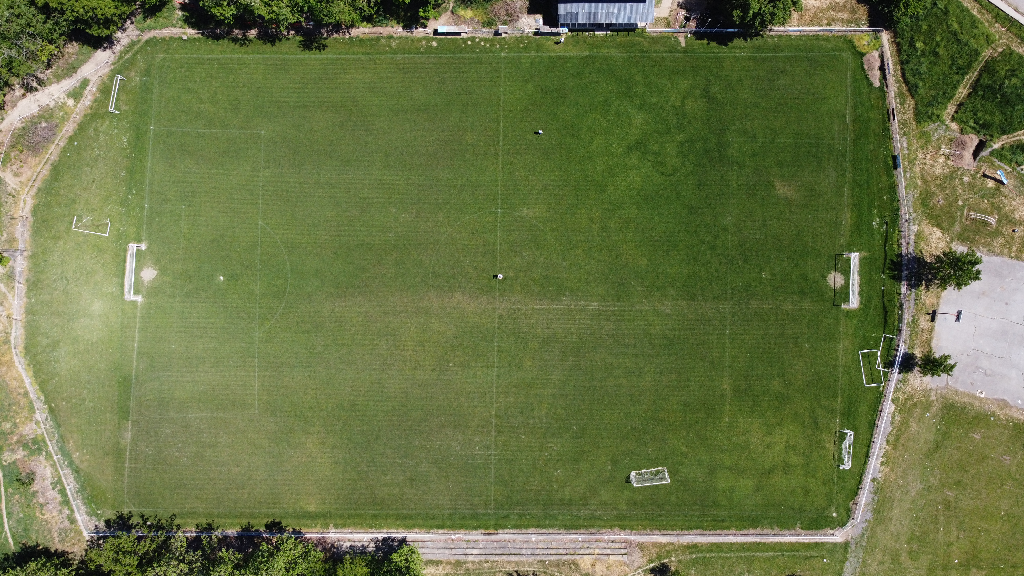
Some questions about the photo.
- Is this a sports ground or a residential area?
sports ground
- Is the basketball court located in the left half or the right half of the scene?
right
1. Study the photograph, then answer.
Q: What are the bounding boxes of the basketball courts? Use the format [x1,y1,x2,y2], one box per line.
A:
[929,247,1024,406]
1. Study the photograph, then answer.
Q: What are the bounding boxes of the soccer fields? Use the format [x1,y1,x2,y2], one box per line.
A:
[23,32,902,532]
